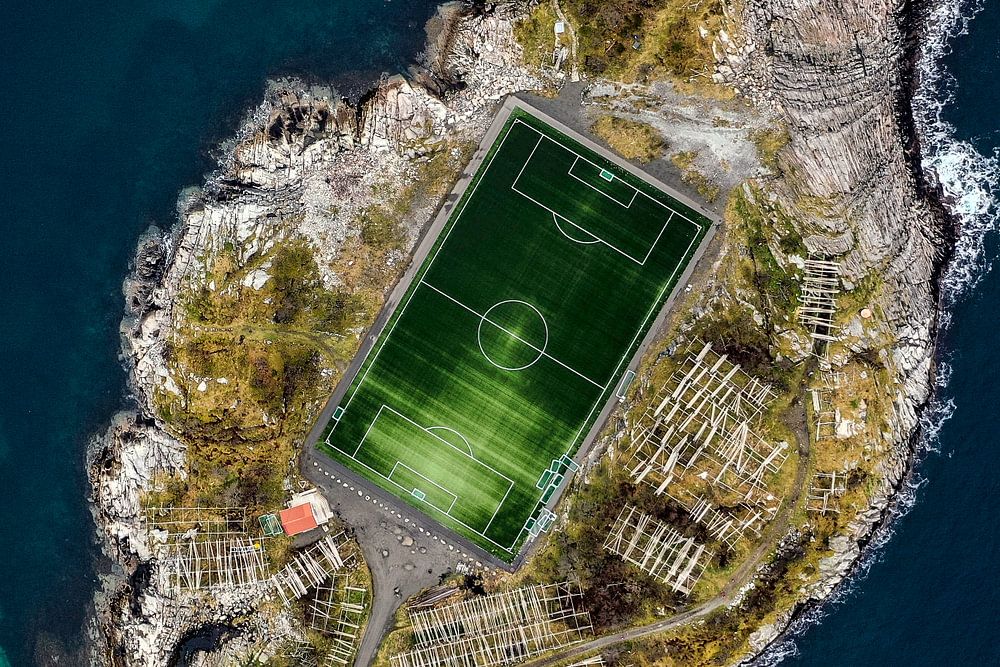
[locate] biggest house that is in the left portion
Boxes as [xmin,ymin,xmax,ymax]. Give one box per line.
[281,502,318,535]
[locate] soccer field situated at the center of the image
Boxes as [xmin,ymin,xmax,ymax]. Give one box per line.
[311,97,720,572]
